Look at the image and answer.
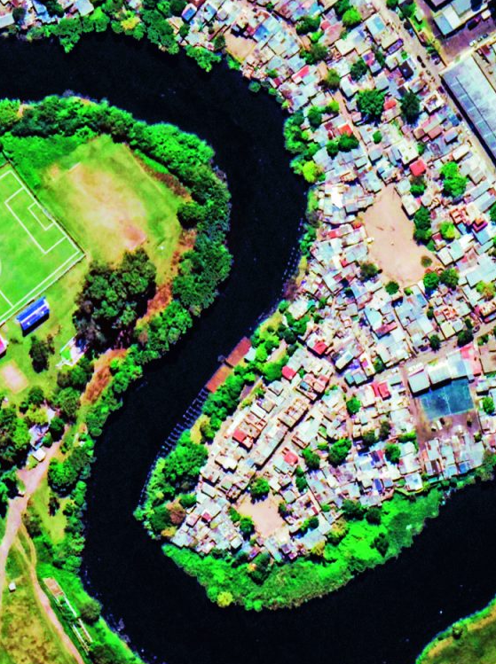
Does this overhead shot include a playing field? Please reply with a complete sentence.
Yes, the frame does contain a playing field.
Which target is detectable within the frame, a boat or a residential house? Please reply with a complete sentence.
Visible in the photo is a residential house.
